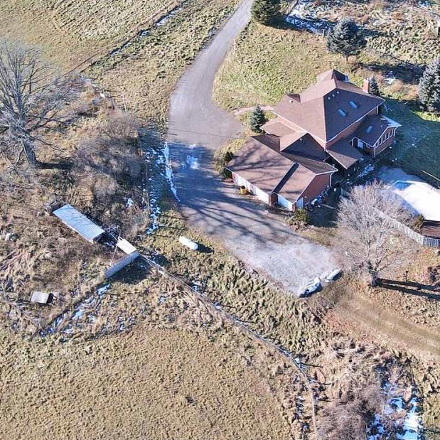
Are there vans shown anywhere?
No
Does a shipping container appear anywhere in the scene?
No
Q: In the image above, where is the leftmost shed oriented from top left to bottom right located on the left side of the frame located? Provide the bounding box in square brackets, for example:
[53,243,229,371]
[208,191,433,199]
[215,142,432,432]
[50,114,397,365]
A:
[52,202,106,246]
